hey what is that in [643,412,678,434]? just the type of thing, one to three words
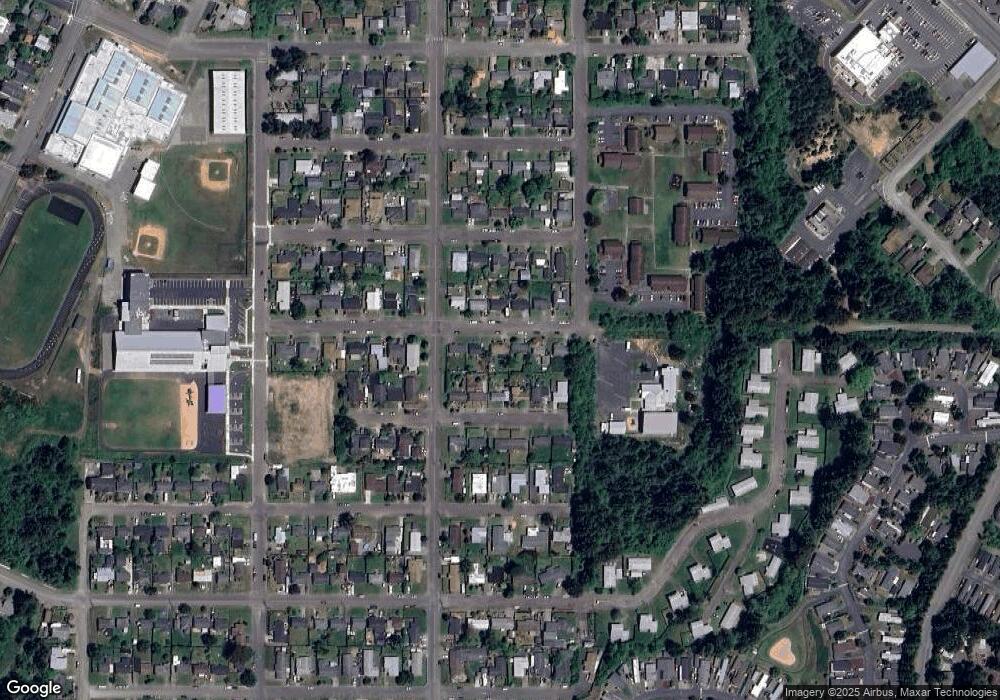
building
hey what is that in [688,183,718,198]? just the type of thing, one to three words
building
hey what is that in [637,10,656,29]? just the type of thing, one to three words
house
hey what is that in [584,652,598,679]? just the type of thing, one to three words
house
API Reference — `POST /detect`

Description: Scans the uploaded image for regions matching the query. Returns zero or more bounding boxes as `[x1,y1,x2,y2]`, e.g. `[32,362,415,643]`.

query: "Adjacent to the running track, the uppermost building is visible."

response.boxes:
[44,39,186,179]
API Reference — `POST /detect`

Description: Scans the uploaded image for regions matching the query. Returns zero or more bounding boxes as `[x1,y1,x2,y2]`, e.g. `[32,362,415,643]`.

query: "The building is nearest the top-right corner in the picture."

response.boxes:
[949,41,997,82]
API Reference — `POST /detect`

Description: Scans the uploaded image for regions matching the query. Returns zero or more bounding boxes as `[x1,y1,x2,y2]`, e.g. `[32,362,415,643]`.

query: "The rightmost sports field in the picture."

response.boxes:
[97,373,198,455]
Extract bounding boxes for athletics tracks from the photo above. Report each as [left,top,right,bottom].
[0,182,104,379]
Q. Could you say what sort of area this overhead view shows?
residential area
